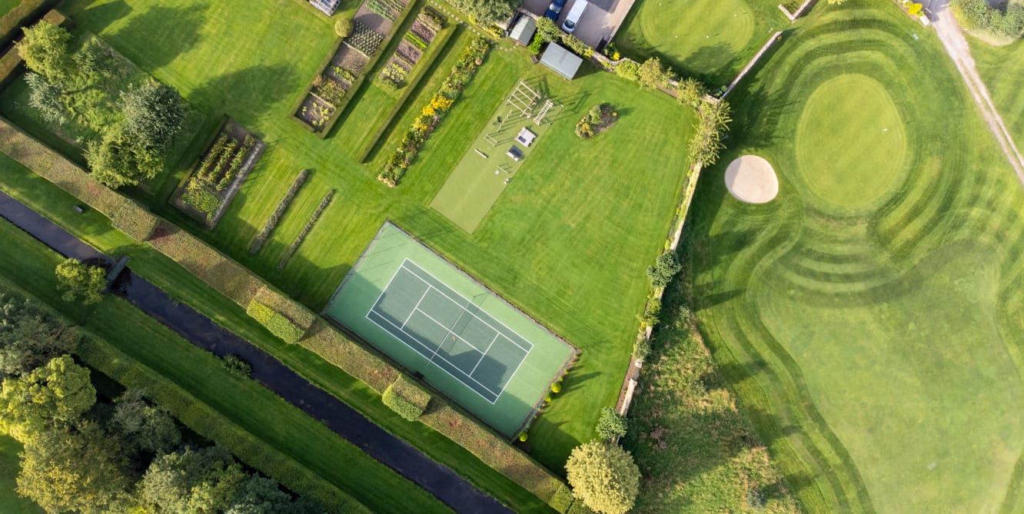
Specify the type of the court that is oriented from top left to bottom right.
tennis court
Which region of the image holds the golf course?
right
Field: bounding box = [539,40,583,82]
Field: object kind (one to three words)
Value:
shed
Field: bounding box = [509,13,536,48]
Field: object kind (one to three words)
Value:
shed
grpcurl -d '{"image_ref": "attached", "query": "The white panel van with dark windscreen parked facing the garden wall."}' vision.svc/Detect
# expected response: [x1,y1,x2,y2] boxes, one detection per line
[563,0,591,31]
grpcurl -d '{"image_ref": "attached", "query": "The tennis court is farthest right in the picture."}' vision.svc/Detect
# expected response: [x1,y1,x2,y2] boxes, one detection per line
[324,221,577,440]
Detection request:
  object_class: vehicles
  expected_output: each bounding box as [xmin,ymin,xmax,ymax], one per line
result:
[563,0,591,31]
[548,0,570,20]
